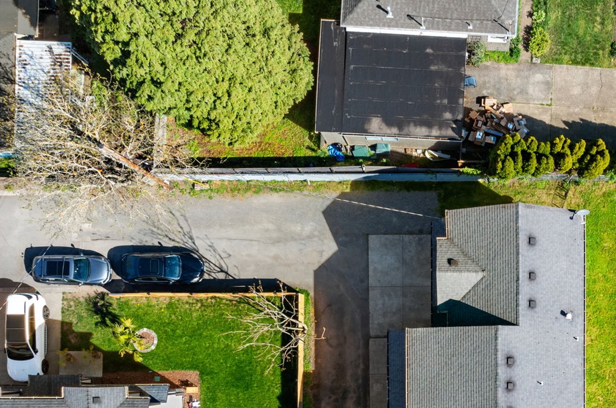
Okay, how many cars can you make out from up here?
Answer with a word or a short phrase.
3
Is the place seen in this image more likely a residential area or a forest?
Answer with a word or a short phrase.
residential area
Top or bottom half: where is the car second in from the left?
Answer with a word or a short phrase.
bottom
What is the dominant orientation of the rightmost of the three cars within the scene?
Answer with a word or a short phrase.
from side to side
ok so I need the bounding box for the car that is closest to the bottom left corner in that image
[2,295,51,381]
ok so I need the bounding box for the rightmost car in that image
[121,247,207,288]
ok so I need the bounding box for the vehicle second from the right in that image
[30,248,114,288]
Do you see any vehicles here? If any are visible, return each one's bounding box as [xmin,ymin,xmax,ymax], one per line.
[30,248,114,288]
[2,295,51,381]
[121,247,207,288]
